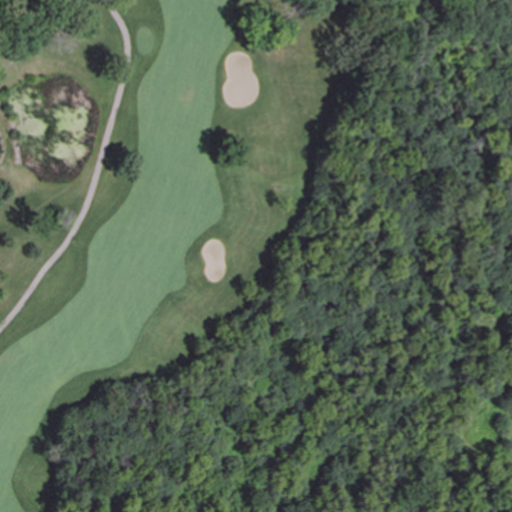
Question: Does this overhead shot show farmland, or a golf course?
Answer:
golf course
